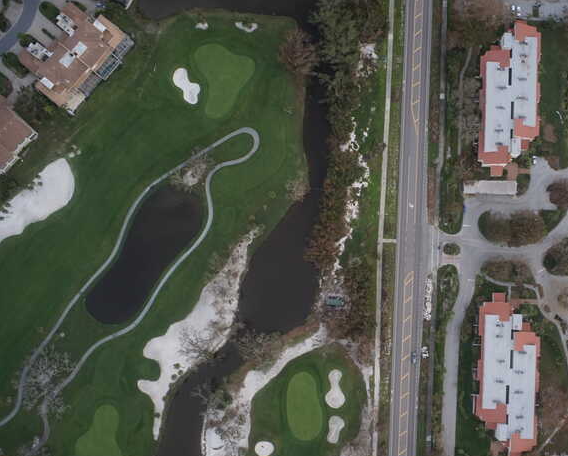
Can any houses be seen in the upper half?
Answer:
Yes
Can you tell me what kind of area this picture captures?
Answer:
golf course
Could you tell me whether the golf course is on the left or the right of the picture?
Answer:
left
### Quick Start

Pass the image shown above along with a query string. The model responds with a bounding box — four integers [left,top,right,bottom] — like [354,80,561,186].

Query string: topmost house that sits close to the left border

[21,2,136,112]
